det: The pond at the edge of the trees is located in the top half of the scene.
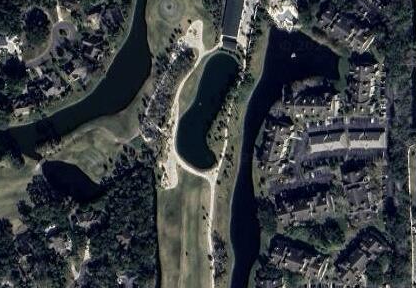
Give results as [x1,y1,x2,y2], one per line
[177,51,237,168]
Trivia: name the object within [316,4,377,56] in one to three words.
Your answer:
building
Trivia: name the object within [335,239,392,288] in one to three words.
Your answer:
building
